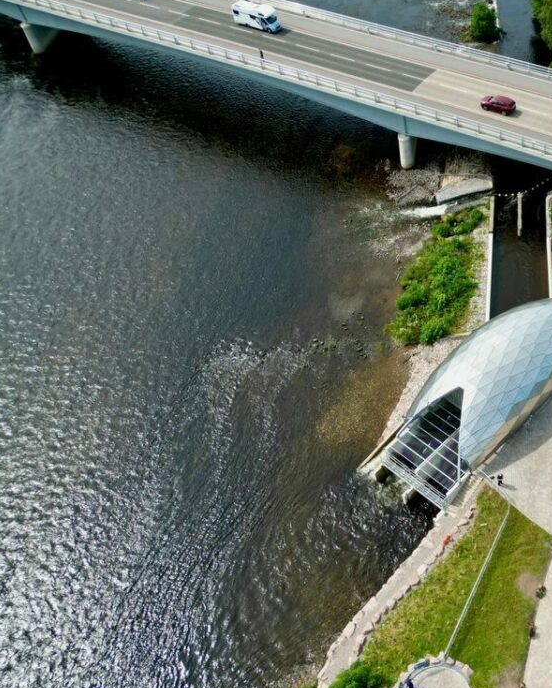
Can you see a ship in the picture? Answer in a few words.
No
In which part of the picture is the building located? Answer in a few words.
right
